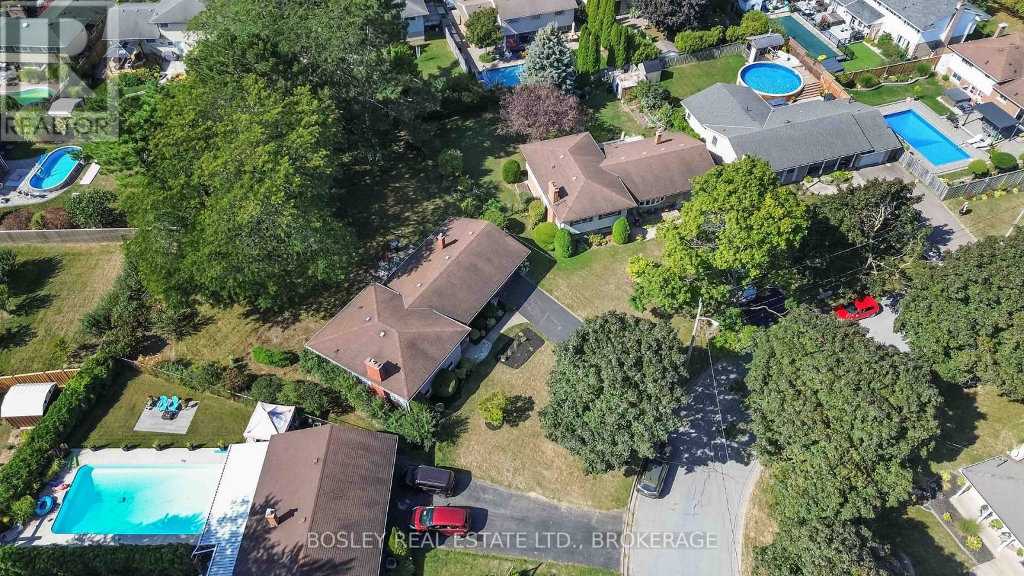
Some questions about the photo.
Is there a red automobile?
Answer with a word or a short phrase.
Yes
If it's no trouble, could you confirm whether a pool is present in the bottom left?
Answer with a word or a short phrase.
Yes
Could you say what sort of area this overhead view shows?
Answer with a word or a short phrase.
residential area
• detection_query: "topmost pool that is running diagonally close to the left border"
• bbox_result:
[20,146,95,201]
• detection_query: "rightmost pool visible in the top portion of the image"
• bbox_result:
[880,105,976,175]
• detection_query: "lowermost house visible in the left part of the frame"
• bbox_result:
[193,421,400,576]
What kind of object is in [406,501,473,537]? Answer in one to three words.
car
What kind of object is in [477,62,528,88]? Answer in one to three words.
swimming pool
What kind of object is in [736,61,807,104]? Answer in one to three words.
swimming pool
